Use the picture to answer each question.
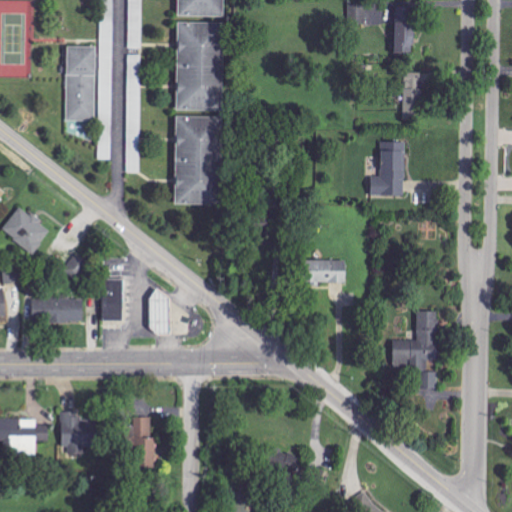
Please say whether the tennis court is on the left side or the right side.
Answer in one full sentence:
The tennis court appears in the left half of the scene.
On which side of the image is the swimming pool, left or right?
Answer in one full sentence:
The swimming pool sits on the left side.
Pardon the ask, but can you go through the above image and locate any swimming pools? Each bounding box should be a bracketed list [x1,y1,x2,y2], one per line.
[64,121,96,144]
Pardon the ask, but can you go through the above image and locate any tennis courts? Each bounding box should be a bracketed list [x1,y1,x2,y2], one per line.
[0,1,32,77]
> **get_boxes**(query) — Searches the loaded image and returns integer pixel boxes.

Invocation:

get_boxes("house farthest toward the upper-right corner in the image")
[394,12,414,54]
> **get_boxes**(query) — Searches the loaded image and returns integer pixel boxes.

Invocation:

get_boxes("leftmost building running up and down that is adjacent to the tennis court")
[65,45,96,122]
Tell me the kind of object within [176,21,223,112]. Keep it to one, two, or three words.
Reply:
building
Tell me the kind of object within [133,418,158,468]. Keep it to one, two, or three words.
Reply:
house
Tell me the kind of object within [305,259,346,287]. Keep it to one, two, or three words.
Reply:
house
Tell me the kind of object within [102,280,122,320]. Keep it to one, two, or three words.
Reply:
building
